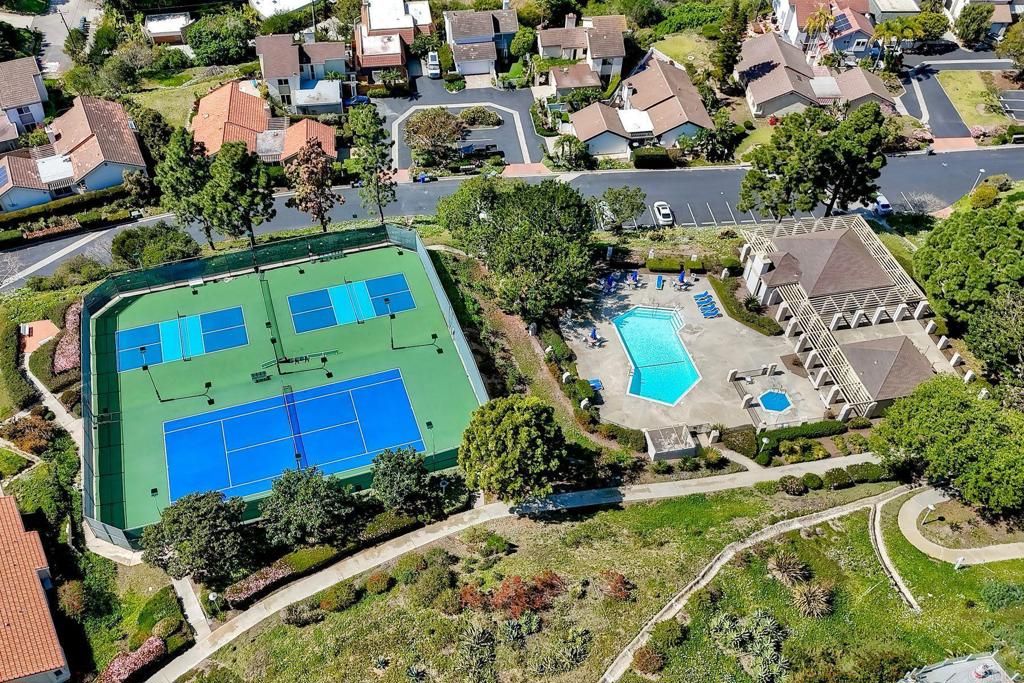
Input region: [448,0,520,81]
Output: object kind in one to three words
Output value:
house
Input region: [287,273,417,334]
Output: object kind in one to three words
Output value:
sports court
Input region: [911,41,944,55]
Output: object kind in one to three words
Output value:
car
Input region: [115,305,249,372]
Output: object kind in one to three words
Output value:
sports court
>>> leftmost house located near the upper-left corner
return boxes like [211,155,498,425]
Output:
[0,56,57,157]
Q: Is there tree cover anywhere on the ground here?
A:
Yes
